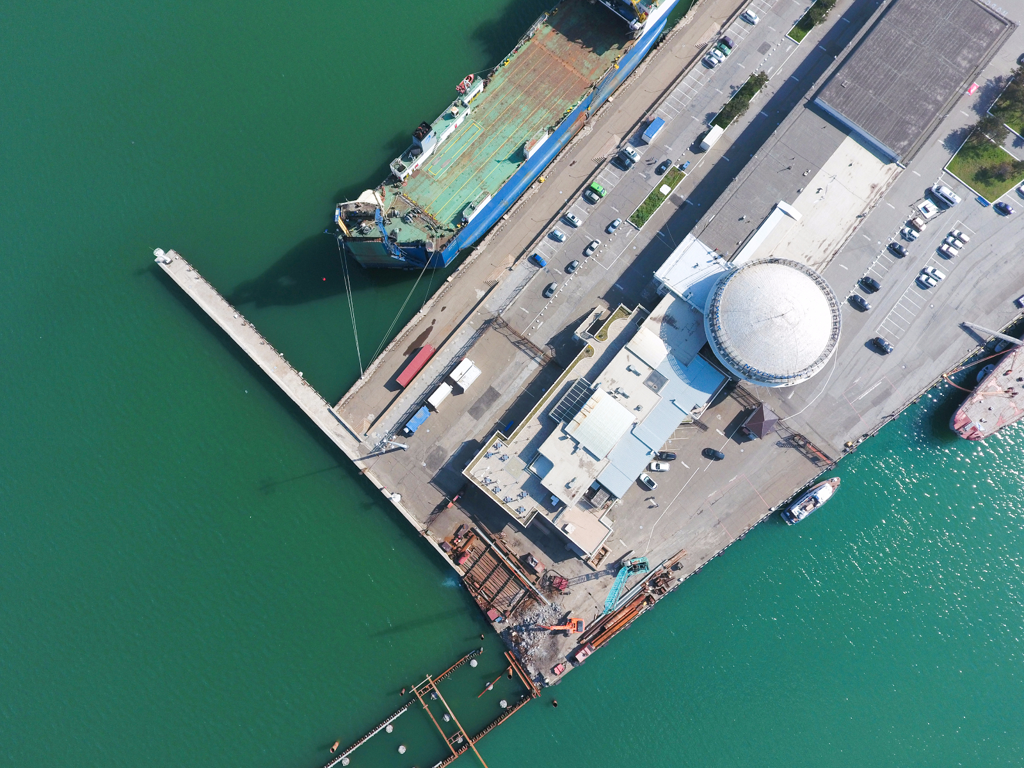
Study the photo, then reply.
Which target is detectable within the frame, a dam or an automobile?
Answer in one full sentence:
Looking from above, you can make out an automobile.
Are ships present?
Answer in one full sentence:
Yes, there's a ship down there.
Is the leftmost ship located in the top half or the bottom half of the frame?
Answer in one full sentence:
The leftmost ship is in the top half of the image.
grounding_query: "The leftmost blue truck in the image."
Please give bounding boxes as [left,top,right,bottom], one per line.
[404,407,432,436]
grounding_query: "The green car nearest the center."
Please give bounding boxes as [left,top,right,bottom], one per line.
[590,181,606,197]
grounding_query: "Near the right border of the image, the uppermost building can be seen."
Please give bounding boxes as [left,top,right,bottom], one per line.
[801,0,1017,168]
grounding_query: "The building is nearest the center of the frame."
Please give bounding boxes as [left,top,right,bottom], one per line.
[461,292,731,557]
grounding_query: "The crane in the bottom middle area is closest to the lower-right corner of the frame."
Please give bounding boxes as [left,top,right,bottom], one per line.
[584,555,651,613]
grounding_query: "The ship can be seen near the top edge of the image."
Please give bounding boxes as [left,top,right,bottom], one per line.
[335,0,688,268]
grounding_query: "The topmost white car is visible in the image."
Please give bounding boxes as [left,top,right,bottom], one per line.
[743,9,760,24]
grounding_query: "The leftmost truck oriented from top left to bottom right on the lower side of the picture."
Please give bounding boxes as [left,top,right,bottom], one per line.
[522,550,548,575]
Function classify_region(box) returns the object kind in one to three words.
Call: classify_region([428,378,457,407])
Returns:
truck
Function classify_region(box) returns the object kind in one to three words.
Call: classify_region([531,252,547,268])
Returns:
car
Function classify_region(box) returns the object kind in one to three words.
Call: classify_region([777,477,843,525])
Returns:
boat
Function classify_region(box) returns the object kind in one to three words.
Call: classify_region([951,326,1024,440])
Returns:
ship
